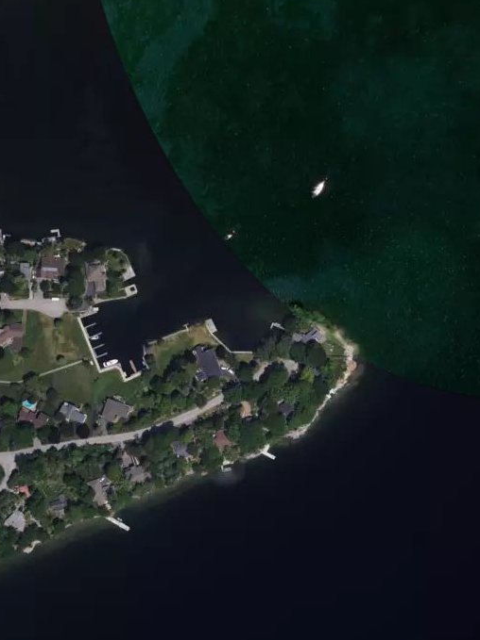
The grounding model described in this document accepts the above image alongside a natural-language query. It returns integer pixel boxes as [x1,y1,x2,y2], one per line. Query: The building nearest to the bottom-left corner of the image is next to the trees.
[3,507,25,533]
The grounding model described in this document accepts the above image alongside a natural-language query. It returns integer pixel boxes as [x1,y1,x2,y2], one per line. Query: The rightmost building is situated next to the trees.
[292,327,327,346]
